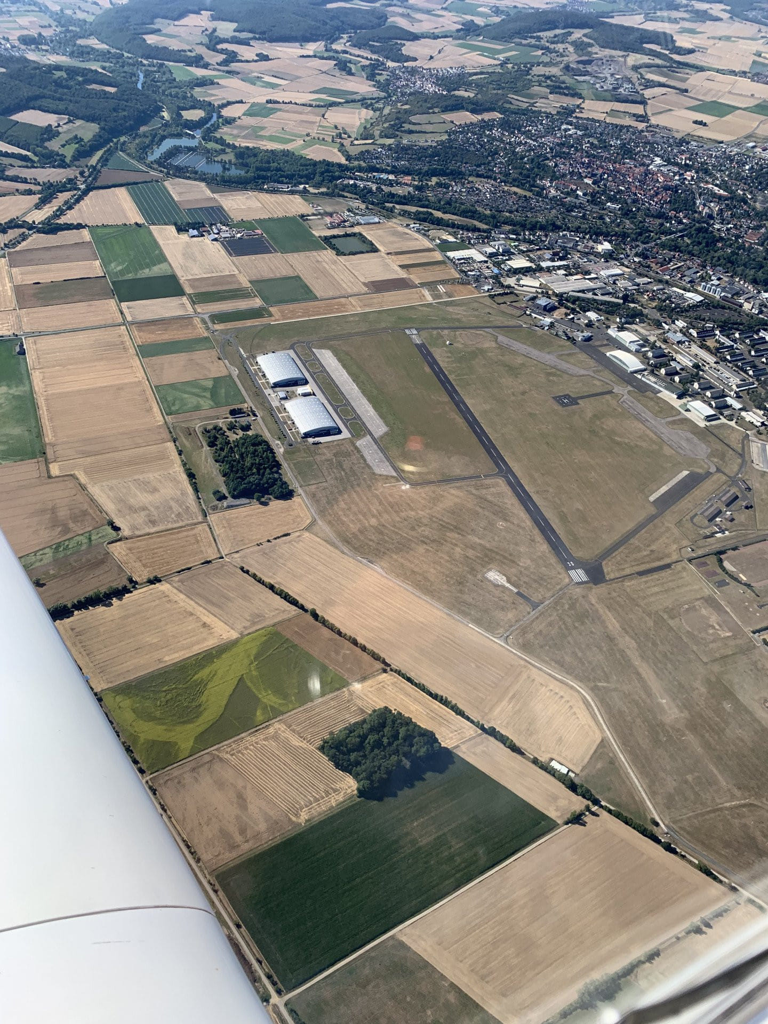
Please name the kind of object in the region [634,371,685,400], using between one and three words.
hangar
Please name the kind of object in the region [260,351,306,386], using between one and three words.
hangar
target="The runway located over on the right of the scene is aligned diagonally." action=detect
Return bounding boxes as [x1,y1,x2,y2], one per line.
[406,327,591,586]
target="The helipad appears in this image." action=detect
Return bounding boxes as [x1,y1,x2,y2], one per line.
[552,390,615,407]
